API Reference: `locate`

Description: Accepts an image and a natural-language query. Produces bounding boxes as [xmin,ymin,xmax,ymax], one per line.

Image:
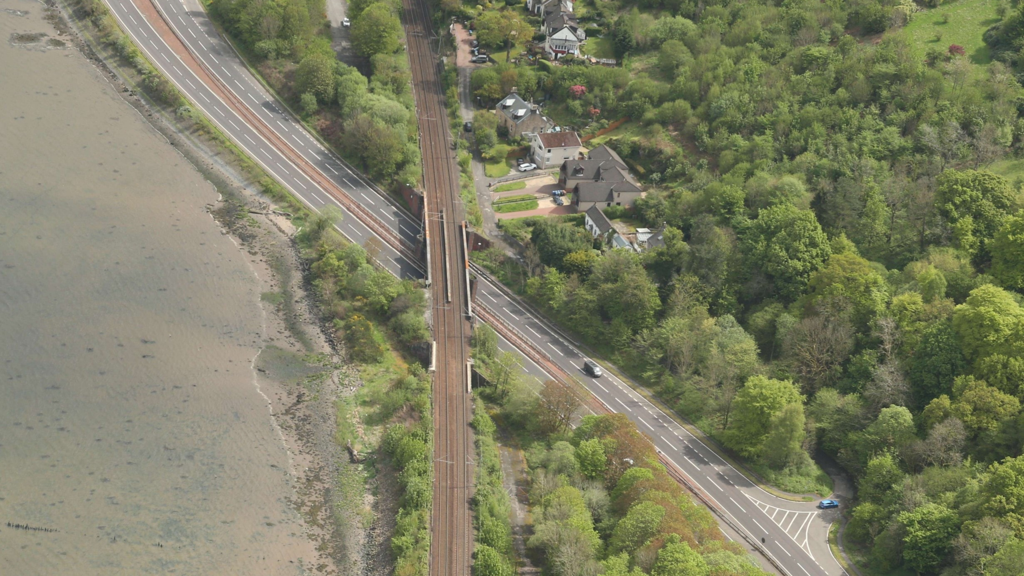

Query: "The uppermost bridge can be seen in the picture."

[398,183,489,326]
